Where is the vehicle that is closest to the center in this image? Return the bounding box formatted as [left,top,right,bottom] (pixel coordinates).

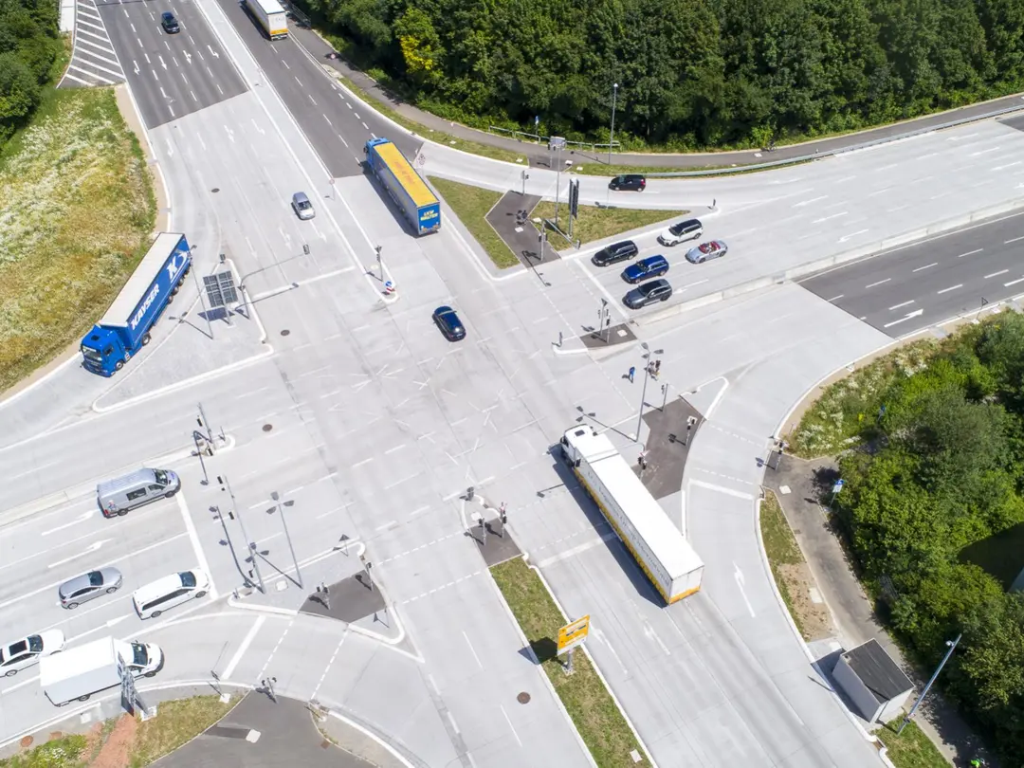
[435,307,467,344]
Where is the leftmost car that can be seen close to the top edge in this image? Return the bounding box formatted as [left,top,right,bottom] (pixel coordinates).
[161,12,181,34]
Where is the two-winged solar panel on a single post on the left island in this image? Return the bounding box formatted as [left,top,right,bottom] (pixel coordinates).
[203,271,238,327]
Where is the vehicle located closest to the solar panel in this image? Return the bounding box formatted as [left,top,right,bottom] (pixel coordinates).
[76,232,191,381]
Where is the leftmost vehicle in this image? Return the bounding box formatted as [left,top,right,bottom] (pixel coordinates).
[0,627,70,677]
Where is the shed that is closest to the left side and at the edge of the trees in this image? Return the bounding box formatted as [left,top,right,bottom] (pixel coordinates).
[833,638,914,722]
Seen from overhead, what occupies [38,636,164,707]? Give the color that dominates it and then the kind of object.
white truck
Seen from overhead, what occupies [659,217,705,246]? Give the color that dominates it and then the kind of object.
white car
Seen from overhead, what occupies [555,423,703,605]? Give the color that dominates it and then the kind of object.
white truck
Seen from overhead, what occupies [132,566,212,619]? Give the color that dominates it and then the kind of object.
white car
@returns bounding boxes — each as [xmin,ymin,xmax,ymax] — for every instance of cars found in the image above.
[593,240,639,266]
[659,217,705,246]
[289,190,315,220]
[55,566,123,608]
[132,566,212,619]
[610,172,647,192]
[687,239,730,263]
[0,627,70,677]
[622,255,671,283]
[161,12,181,34]
[621,276,674,308]
[435,307,467,344]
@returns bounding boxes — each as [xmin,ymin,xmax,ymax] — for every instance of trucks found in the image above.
[362,136,441,232]
[76,232,191,381]
[38,636,164,707]
[555,423,703,605]
[244,0,289,39]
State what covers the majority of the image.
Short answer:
paved ground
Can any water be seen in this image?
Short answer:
No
